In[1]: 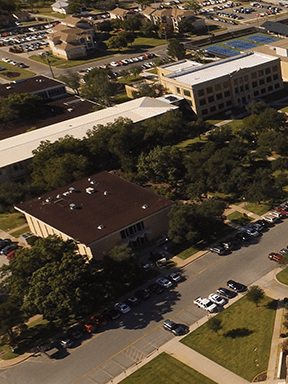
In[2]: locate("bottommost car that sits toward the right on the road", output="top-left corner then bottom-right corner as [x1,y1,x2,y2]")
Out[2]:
[165,318,186,334]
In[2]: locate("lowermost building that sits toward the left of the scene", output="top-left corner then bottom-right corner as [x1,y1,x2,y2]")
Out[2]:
[14,172,173,257]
